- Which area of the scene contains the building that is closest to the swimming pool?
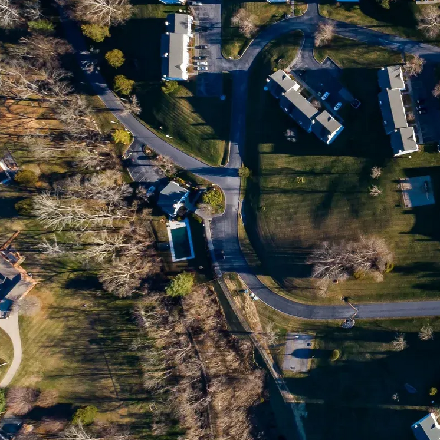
center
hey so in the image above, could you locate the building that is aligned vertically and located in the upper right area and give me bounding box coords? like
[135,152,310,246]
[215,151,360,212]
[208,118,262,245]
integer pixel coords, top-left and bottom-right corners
[376,64,420,154]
